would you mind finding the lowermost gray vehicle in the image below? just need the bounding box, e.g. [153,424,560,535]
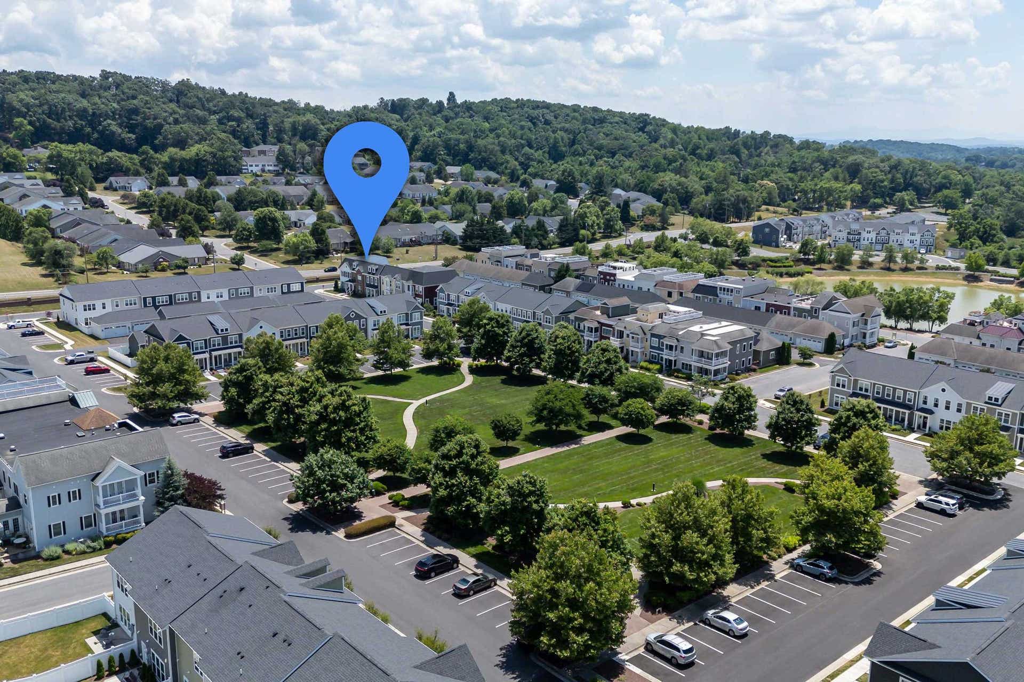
[638,632,694,666]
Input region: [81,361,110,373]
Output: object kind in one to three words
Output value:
vehicle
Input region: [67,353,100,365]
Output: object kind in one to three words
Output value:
vehicle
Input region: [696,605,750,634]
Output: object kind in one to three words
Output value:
car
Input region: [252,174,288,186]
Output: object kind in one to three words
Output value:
house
